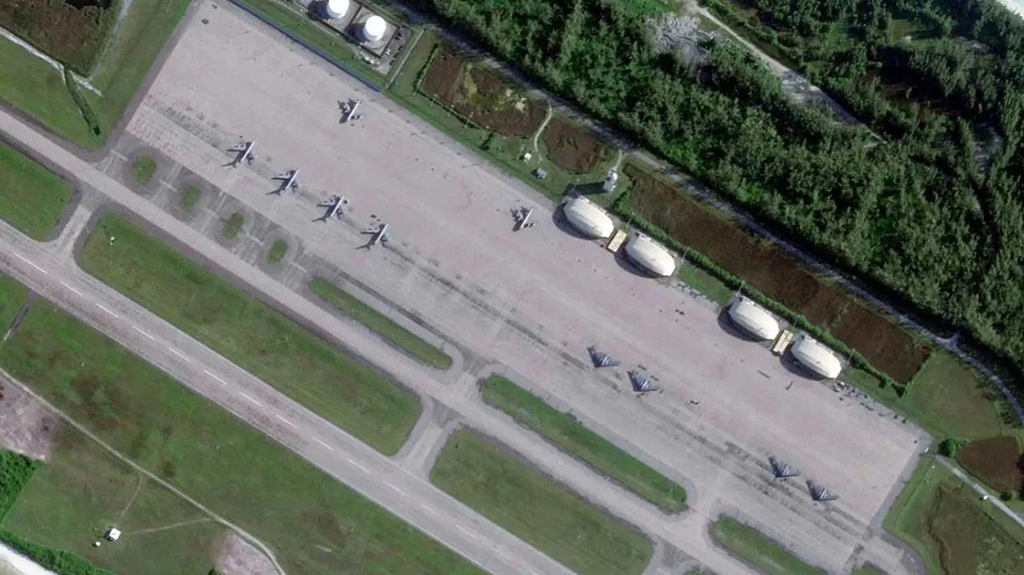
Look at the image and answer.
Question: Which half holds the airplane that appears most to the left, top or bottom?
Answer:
top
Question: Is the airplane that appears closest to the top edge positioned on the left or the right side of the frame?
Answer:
left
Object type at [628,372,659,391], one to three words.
airplane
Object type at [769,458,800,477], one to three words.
airplane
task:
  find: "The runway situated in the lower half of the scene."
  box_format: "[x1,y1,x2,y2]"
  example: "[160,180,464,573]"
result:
[0,220,576,575]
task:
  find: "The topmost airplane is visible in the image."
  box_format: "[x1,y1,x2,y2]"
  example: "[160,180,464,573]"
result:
[345,97,369,120]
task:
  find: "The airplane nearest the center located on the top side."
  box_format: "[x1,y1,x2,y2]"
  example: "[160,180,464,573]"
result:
[518,204,543,228]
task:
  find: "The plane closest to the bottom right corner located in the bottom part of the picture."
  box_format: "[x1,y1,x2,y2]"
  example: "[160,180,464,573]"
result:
[808,481,839,500]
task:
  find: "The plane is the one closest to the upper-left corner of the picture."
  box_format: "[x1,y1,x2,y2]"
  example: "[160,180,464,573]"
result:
[228,142,257,168]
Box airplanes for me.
[518,204,543,228]
[228,142,257,168]
[808,481,839,500]
[590,347,621,366]
[362,224,391,250]
[317,196,346,222]
[769,458,800,477]
[272,169,301,195]
[345,97,369,120]
[628,372,659,391]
